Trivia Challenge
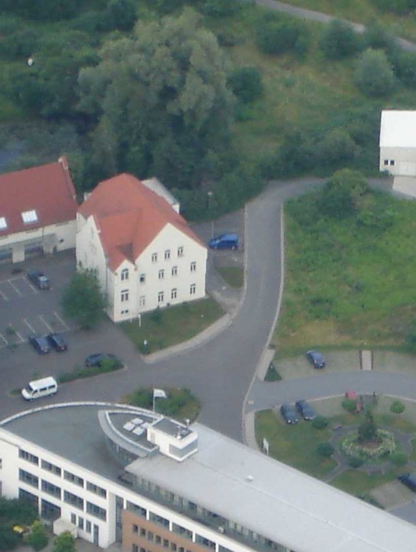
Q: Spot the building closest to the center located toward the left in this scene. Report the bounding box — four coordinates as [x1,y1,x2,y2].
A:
[71,183,208,322]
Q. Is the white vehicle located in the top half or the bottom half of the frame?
bottom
